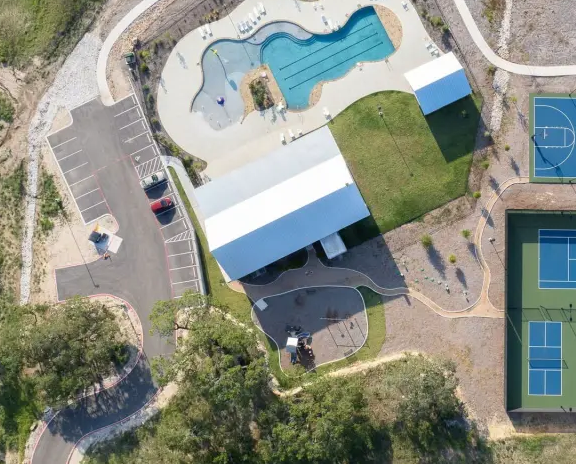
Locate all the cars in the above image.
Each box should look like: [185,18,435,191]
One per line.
[137,171,166,190]
[147,195,174,213]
